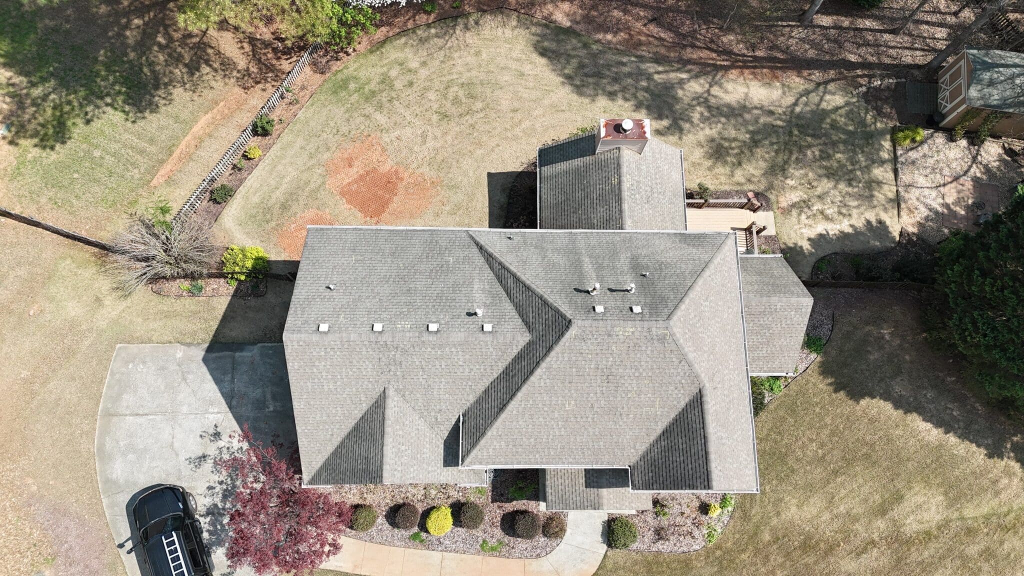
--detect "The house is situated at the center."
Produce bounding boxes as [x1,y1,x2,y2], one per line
[281,117,813,514]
